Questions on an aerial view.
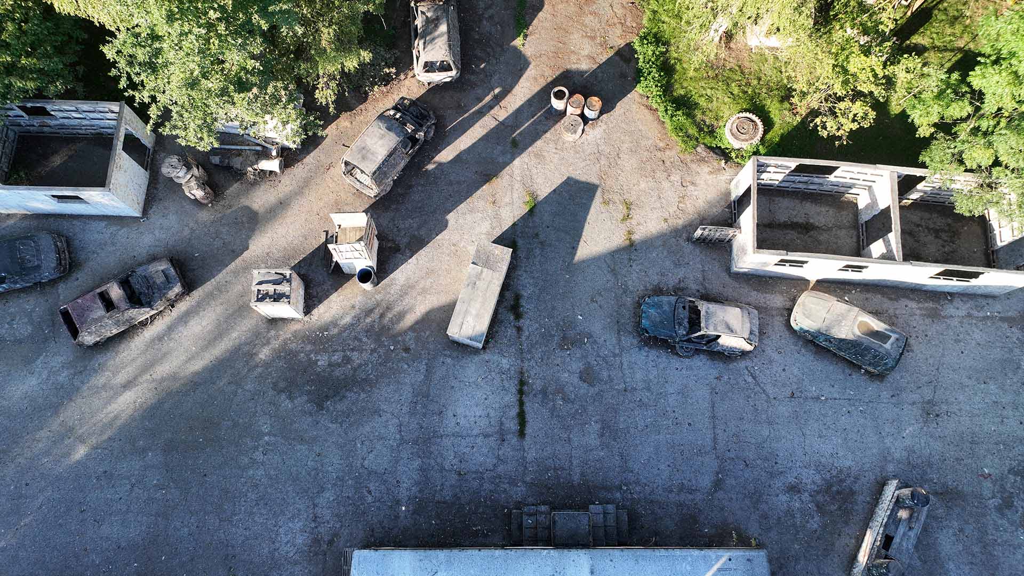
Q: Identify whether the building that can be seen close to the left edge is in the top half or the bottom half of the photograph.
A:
top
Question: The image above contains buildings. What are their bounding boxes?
[0,99,156,215]
[349,548,770,576]
[733,154,1024,301]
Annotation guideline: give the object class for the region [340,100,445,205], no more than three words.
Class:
car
